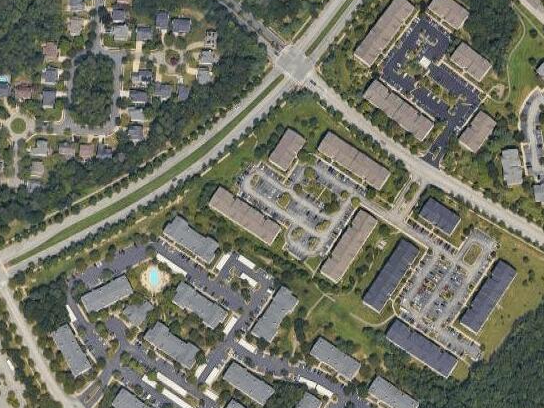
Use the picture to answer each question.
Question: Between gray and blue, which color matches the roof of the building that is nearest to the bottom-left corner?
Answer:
gray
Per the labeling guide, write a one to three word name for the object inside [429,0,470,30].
building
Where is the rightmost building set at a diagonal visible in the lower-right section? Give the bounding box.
[460,261,518,333]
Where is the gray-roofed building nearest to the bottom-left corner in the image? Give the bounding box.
[49,324,92,377]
